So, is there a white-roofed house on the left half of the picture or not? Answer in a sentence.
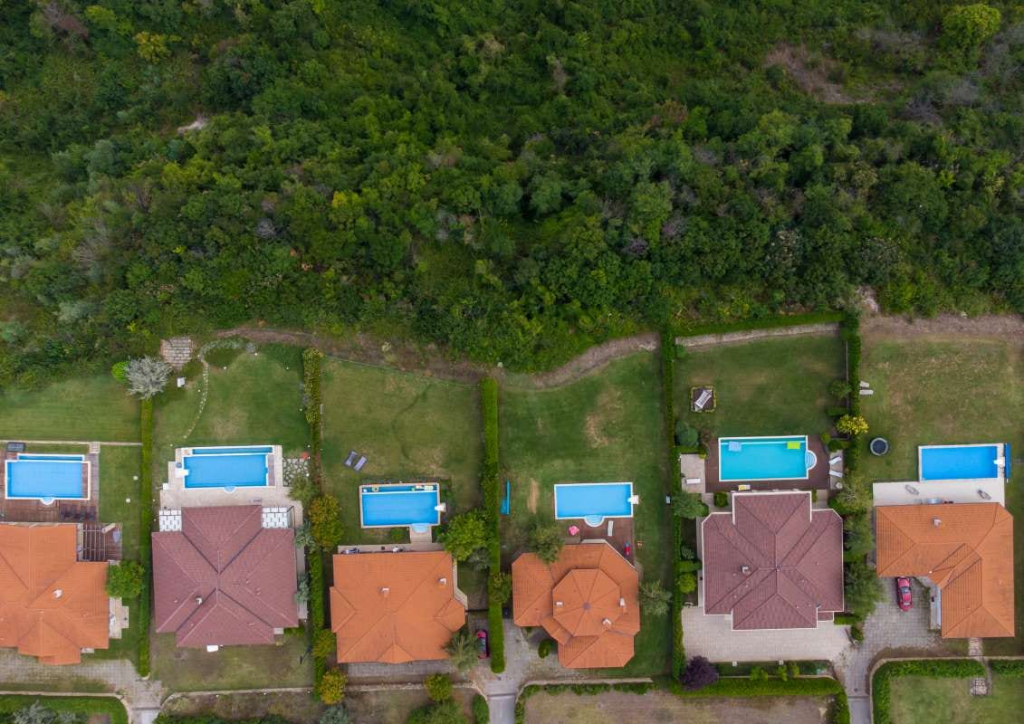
No, no white-roofed house can be made out on the left half of the picture.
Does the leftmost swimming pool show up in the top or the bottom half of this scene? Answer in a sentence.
It is in the bottom half that the leftmost swimming pool appears.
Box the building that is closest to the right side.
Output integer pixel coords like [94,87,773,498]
[872,502,1015,638]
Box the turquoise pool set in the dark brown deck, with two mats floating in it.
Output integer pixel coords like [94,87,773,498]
[719,435,818,482]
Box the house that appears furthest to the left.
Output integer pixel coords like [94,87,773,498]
[0,523,115,665]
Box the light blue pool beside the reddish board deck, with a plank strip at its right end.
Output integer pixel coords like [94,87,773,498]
[5,454,91,507]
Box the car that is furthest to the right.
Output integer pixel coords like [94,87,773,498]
[893,577,911,609]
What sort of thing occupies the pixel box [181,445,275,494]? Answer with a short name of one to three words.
swimming pool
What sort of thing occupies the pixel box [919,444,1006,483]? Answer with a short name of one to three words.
swimming pool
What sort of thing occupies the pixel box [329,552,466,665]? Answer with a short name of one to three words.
house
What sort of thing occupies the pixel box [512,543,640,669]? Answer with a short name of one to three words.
house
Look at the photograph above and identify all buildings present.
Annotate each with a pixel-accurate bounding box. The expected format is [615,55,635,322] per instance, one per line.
[512,543,640,669]
[702,491,844,631]
[872,502,1015,638]
[329,552,466,665]
[0,523,115,665]
[152,504,299,654]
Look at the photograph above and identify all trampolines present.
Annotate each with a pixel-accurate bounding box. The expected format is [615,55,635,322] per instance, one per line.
[870,438,887,455]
